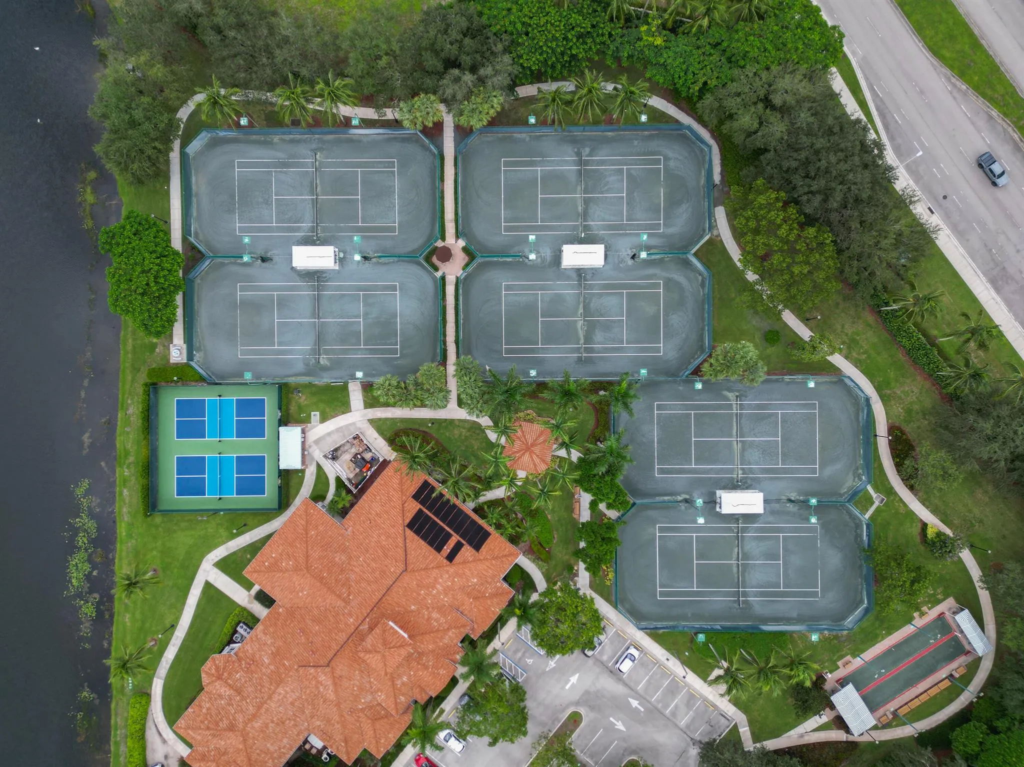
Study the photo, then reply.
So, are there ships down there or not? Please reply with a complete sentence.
No, there is no ship in the image.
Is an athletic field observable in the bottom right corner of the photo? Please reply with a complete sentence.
No, in the bottom right corner of the photo there is no athletic field.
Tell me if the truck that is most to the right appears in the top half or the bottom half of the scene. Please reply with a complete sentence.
The top half of the photo is where the truck that is most to the right is.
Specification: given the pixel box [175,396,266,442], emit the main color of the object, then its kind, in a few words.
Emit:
blue sports court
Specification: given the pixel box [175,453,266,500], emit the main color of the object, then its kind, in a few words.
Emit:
blue sports court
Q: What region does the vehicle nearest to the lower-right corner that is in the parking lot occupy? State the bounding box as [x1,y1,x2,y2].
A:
[614,645,639,674]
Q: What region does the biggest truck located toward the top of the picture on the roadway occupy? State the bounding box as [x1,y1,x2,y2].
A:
[974,152,1006,188]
